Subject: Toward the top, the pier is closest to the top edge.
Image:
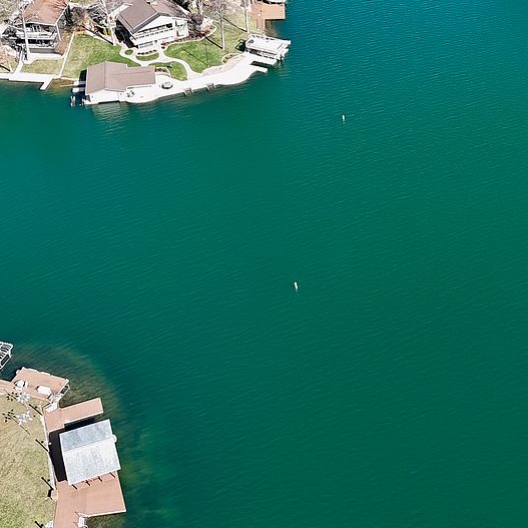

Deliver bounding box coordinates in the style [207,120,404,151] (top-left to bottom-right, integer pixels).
[252,3,285,33]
